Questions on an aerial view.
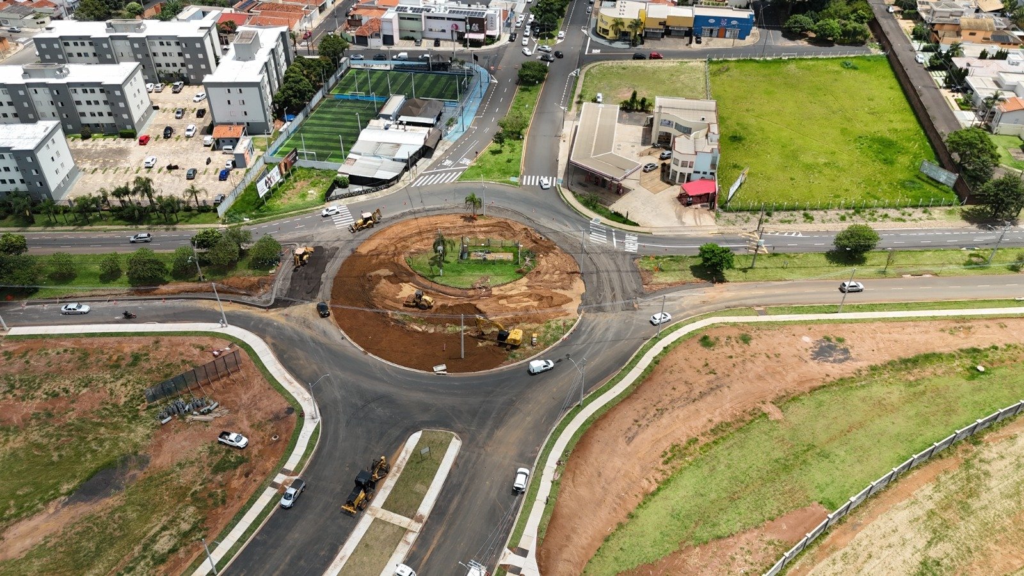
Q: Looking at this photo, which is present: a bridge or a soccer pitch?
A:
soccer pitch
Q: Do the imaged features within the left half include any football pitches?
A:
Yes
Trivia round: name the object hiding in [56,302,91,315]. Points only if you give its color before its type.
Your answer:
white vehicle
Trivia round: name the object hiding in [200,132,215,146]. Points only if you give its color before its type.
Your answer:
white vehicle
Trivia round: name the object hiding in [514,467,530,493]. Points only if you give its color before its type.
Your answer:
white car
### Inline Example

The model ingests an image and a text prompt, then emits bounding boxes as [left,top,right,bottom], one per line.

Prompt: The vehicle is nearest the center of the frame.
[473,318,521,349]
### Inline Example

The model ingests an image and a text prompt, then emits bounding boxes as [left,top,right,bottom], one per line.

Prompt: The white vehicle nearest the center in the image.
[528,358,554,374]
